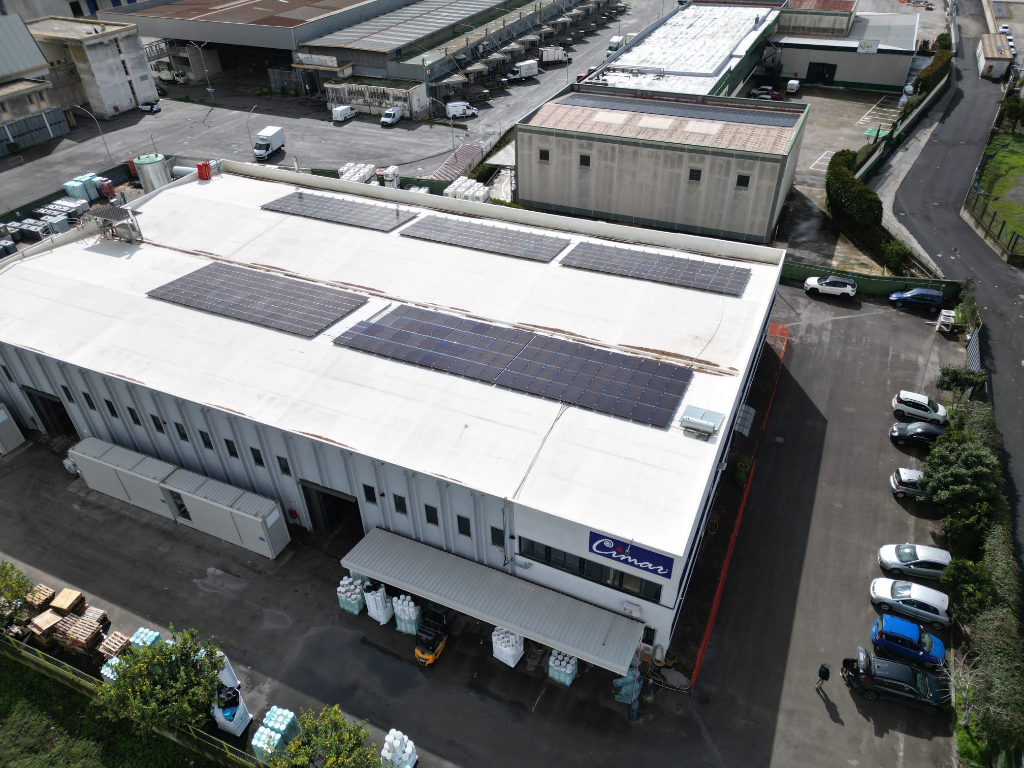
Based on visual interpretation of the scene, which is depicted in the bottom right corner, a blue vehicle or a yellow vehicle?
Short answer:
blue vehicle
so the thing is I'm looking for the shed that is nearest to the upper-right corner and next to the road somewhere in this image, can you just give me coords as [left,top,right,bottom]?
[976,35,1014,78]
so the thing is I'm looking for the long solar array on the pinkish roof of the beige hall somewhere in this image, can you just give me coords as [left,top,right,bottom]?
[559,96,796,127]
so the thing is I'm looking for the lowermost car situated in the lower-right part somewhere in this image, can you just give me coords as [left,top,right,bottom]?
[840,641,955,717]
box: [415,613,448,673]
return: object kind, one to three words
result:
work vehicle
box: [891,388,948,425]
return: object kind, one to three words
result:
car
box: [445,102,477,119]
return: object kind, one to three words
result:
vehicle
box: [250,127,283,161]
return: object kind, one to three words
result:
truck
